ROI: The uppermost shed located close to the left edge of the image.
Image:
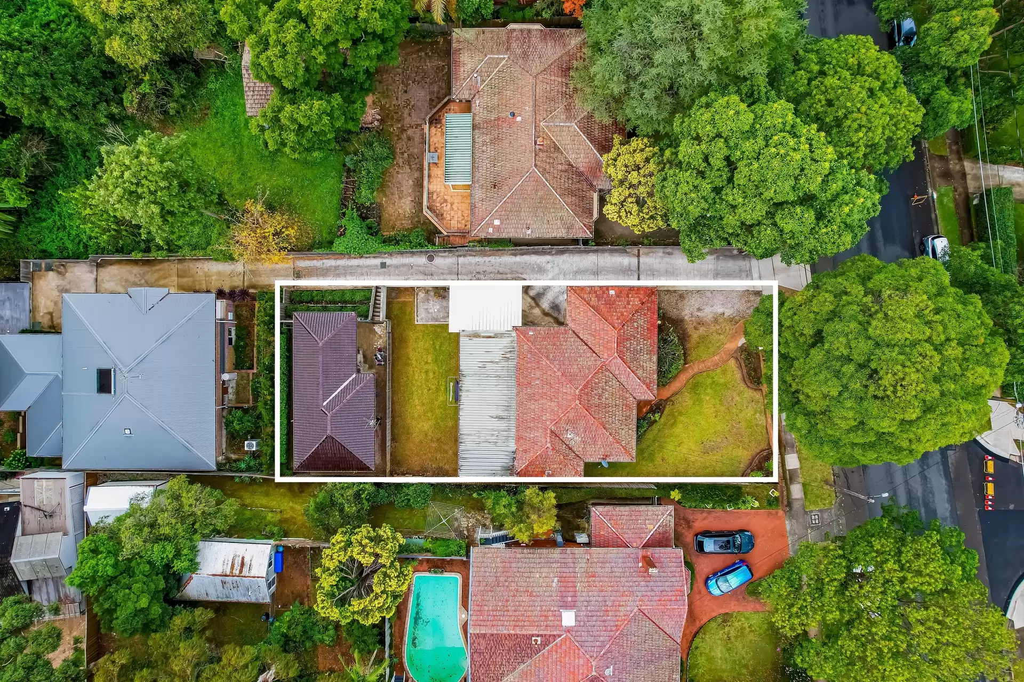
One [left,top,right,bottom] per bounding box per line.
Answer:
[0,282,49,331]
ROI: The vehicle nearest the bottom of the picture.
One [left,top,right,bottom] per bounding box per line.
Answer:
[700,556,756,595]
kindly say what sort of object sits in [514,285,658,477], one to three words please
house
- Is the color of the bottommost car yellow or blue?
blue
